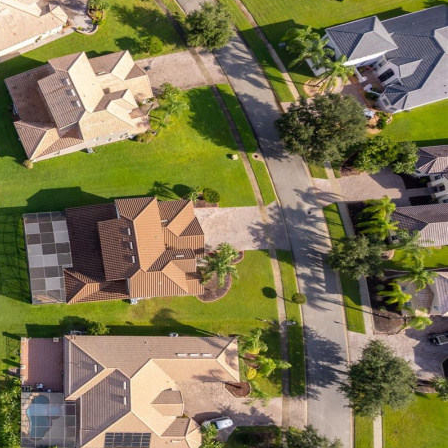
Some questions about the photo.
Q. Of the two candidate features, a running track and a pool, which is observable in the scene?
pool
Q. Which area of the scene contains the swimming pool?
bottom left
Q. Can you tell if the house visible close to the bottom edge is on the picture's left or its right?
left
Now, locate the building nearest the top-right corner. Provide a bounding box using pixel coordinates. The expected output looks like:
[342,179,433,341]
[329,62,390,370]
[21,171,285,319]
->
[314,5,448,122]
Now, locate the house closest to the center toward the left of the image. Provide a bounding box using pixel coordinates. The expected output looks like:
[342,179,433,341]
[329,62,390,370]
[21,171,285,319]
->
[64,197,206,304]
